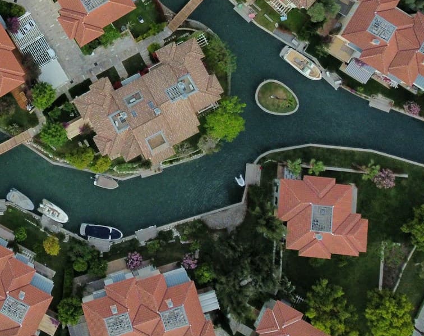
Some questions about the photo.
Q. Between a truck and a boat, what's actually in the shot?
boat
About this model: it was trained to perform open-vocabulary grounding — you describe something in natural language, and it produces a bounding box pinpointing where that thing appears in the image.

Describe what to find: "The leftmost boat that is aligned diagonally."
[3,186,34,209]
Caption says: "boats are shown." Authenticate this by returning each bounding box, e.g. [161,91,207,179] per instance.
[89,176,119,190]
[3,186,34,209]
[77,222,123,239]
[235,174,244,185]
[35,197,67,221]
[278,46,321,79]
